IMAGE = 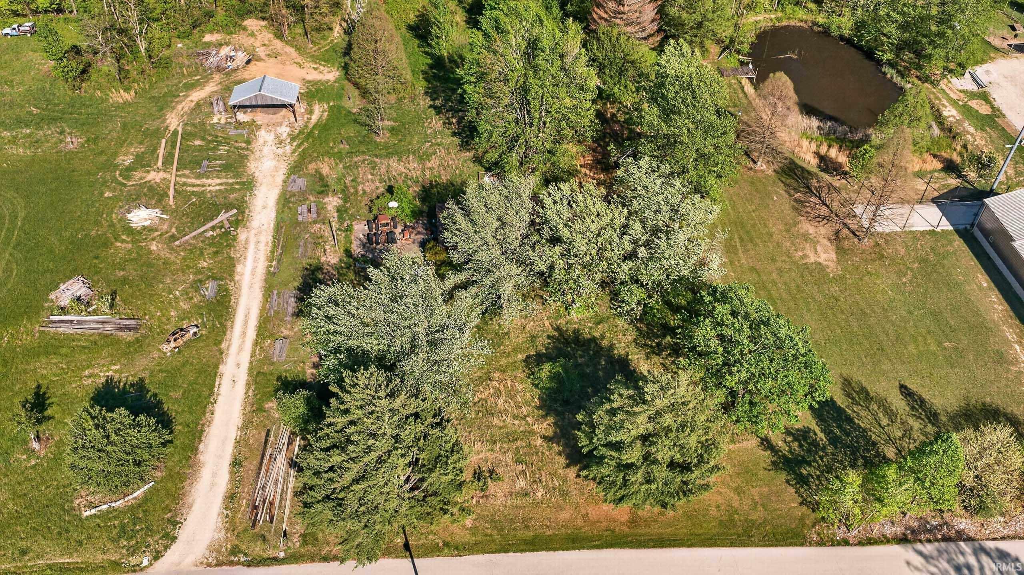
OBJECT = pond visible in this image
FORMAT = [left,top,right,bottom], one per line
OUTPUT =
[747,26,904,132]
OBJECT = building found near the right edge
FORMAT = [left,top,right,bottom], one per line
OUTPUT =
[972,191,1024,300]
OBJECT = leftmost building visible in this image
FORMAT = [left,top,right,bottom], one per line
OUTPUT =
[227,75,304,123]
